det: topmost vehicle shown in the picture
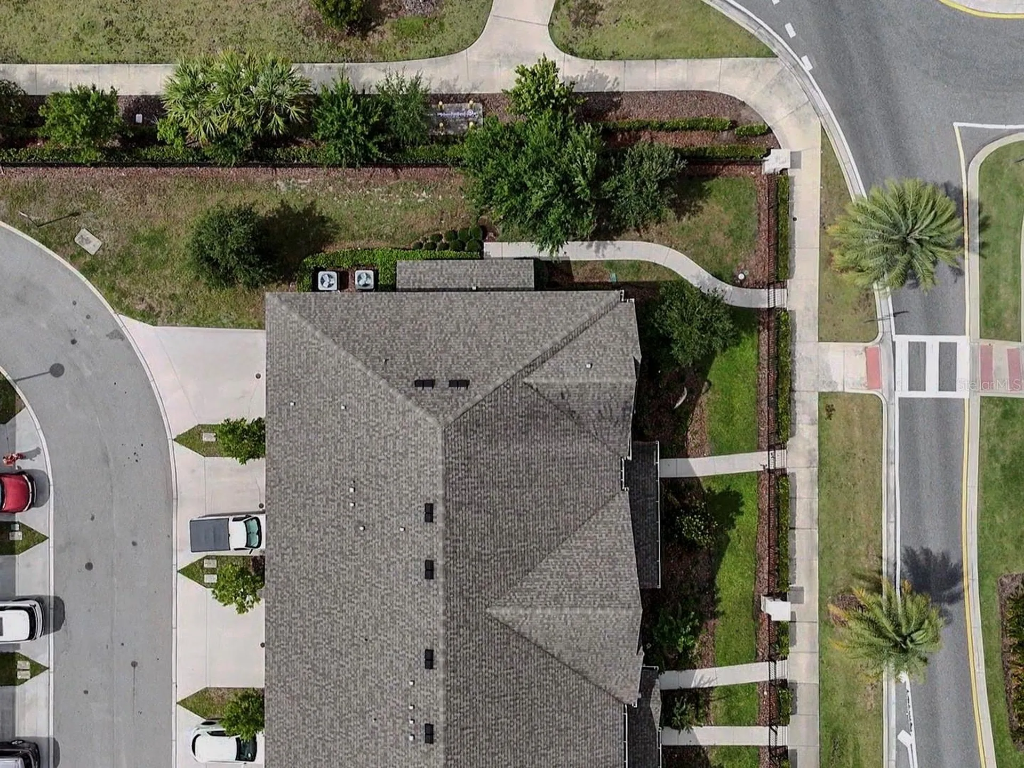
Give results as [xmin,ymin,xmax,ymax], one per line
[0,472,39,510]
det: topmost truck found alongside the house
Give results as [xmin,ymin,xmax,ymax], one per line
[188,511,265,555]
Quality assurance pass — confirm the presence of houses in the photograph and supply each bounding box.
[264,259,664,768]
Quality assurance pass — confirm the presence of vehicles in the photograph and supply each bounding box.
[188,511,265,555]
[0,472,39,510]
[0,735,44,768]
[193,715,266,763]
[0,596,47,637]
